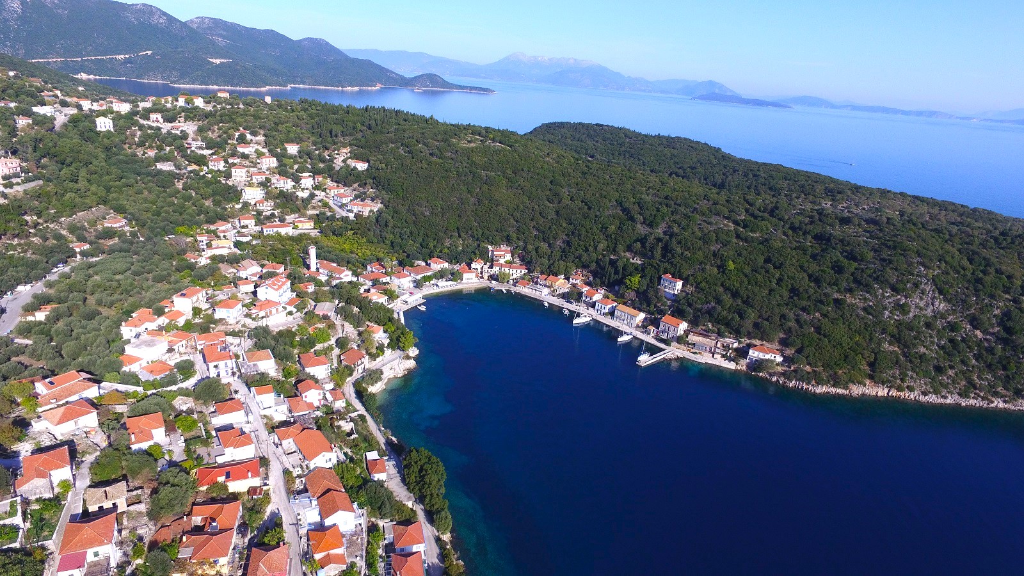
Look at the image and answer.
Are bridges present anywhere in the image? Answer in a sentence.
No, the scene contains no bridge.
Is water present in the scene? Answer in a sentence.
Yes, there's water in this view.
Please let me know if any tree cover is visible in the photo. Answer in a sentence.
Yes, there's tree cover in this view.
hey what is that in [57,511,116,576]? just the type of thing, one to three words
house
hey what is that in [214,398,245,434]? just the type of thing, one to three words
house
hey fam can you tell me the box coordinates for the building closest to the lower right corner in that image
[749,345,779,366]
